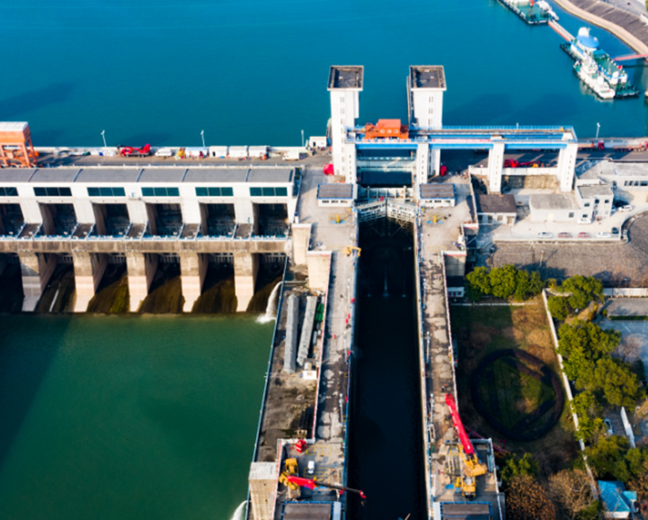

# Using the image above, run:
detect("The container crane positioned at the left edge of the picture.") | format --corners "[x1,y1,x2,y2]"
[0,119,43,167]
